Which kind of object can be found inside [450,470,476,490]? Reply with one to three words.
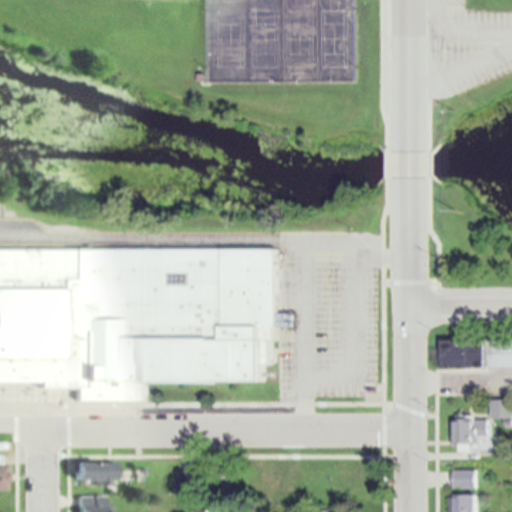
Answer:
house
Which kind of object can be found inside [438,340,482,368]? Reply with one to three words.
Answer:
house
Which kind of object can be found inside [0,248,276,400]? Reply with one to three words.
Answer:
building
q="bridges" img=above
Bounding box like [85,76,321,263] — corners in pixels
[377,144,442,187]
